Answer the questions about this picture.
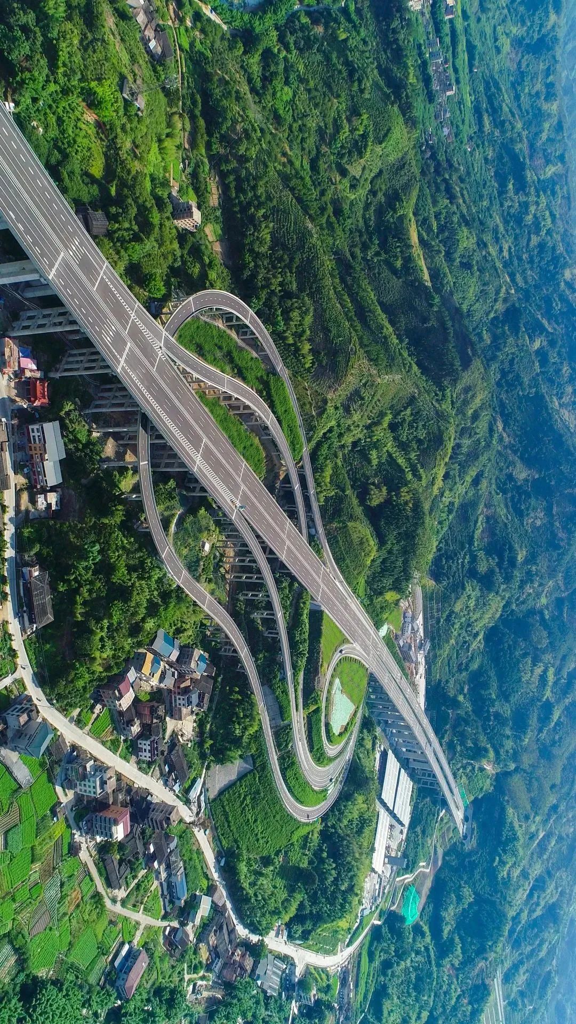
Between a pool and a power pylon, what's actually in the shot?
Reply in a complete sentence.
It is a power pylon that can be seen here.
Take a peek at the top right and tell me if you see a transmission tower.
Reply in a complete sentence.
No, looking at the top right, there is no transmission tower.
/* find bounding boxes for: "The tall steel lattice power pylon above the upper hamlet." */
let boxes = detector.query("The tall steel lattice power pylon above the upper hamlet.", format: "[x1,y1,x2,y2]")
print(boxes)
[130,68,182,98]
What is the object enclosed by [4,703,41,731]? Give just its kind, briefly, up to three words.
house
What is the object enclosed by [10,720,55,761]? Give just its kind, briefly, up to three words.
house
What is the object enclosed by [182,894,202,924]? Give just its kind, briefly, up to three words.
shed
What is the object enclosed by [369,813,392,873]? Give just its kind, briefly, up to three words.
building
